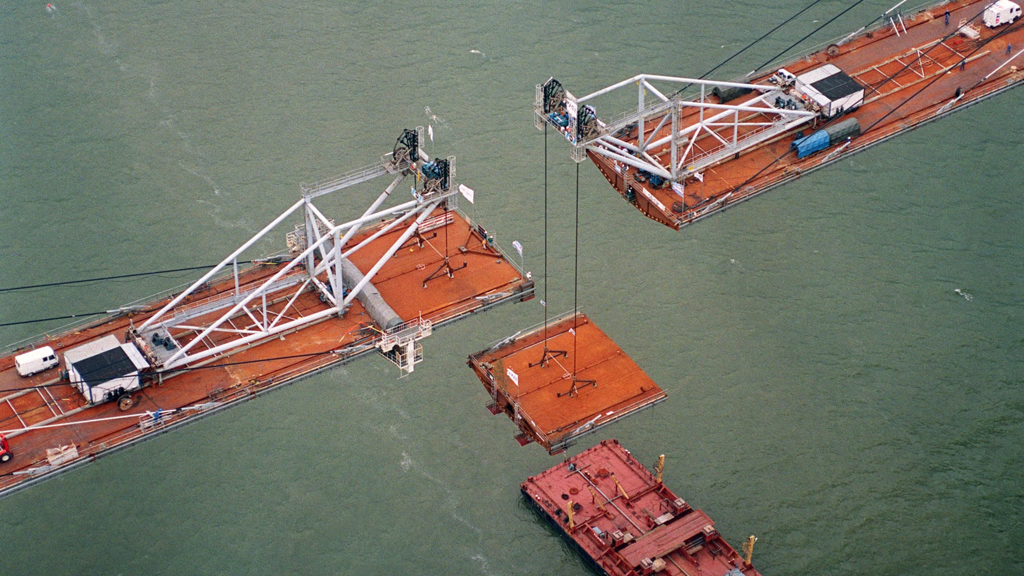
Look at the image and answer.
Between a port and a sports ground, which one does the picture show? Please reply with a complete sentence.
It's a port.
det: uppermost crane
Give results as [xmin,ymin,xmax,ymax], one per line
[530,72,826,185]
